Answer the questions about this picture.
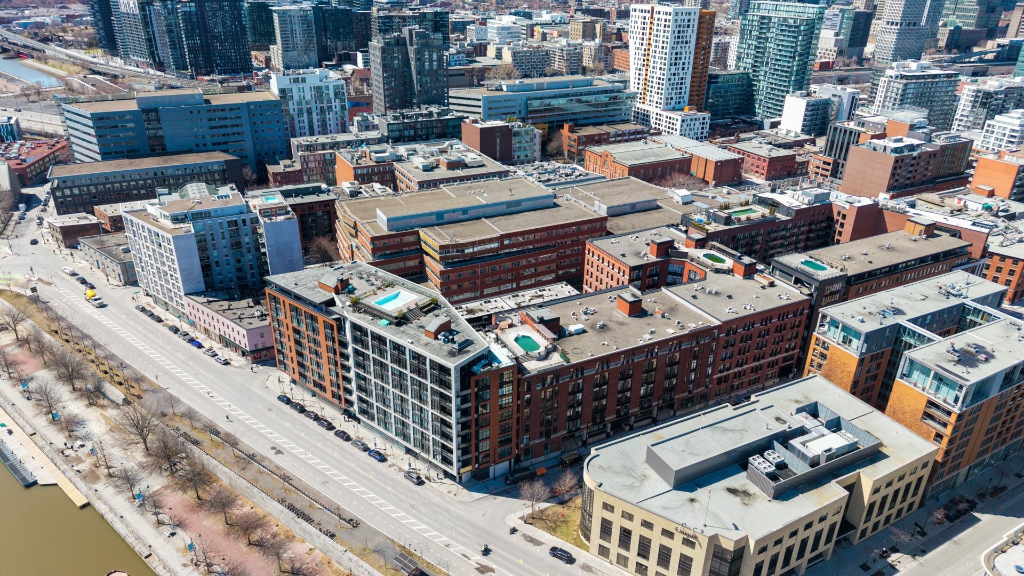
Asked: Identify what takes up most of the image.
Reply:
buildings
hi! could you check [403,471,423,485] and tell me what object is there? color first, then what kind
gray car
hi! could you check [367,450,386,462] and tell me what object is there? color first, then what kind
blue vehicle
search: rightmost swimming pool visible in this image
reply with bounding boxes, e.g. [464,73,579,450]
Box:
[798,260,830,272]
